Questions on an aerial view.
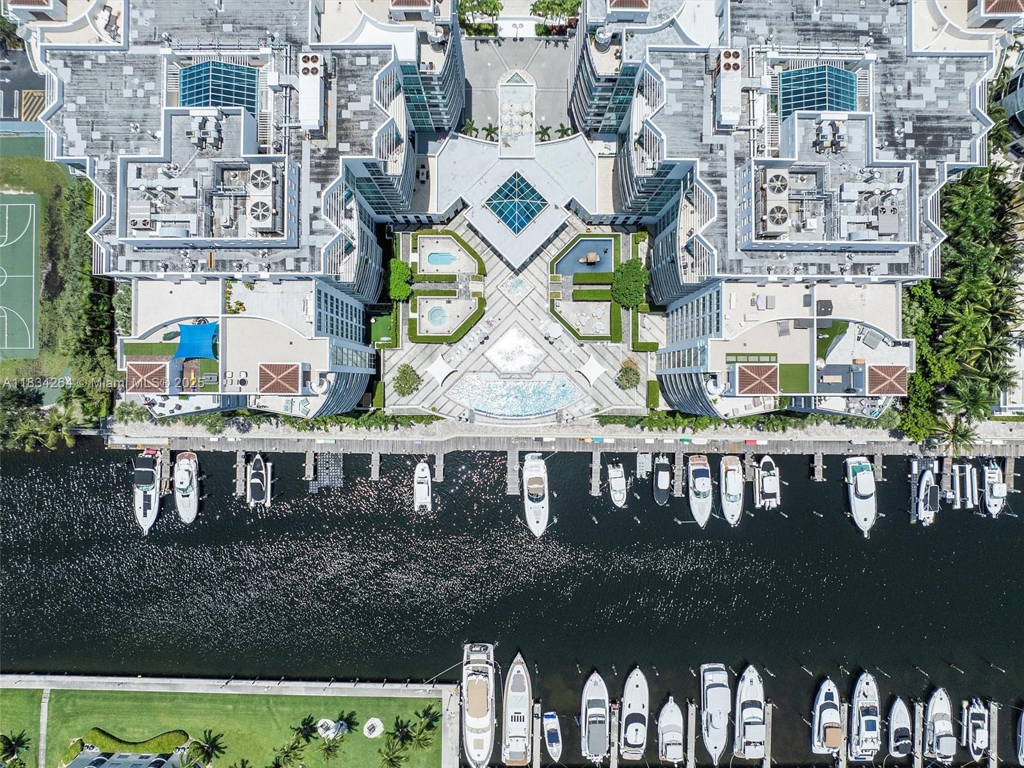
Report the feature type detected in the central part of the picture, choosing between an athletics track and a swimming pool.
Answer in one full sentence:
The one visible in the central part of the picture is a swimming pool.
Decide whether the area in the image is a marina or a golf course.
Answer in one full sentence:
The area seen from above is a marina.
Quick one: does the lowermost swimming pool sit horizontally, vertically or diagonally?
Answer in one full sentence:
The lowermost swimming pool is laid out horizontally.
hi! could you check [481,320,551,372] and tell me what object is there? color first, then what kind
white swimming pool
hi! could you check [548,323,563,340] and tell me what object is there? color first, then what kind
white umbrella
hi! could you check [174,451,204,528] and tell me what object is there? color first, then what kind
white boat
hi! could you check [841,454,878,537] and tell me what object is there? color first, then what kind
white boat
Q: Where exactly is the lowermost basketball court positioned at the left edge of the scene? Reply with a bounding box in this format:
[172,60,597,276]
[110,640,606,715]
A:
[0,194,40,358]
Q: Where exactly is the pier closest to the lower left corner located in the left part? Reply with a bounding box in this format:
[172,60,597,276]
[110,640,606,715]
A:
[158,450,174,494]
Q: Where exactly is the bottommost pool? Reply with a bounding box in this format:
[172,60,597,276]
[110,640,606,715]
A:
[442,371,590,419]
